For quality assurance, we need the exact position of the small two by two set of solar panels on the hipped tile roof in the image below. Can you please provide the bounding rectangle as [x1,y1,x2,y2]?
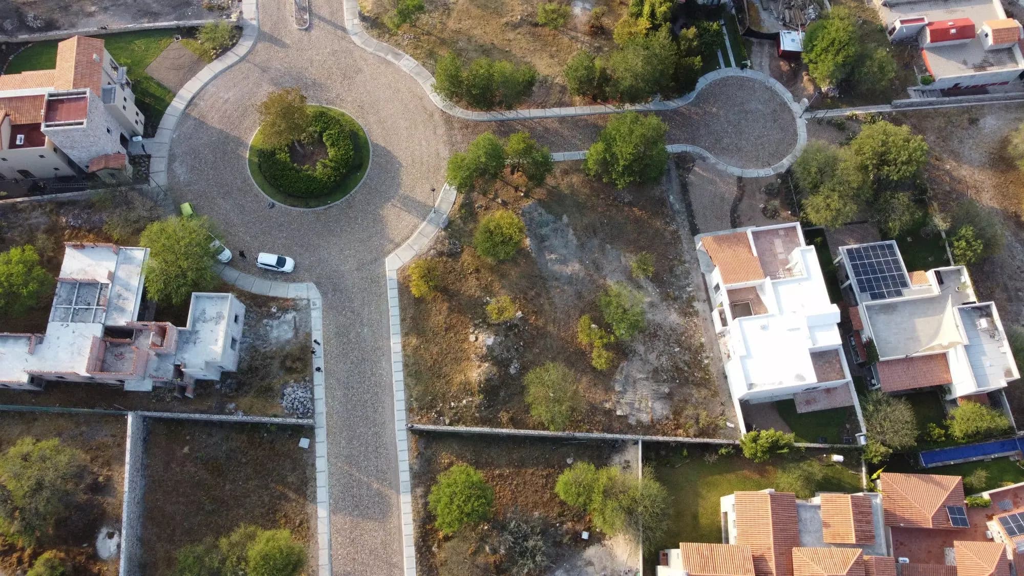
[946,506,969,527]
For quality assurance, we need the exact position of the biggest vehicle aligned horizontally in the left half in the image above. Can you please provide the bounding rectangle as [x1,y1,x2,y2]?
[254,252,296,274]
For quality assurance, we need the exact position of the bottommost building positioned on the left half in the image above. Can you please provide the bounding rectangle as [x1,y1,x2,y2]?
[0,243,244,399]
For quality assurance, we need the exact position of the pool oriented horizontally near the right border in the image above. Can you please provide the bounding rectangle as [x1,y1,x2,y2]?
[917,438,1024,468]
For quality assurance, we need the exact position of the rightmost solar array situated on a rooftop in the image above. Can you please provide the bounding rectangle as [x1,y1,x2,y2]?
[998,512,1024,536]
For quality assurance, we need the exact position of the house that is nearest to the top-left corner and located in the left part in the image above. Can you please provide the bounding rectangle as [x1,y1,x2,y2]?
[0,34,144,183]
